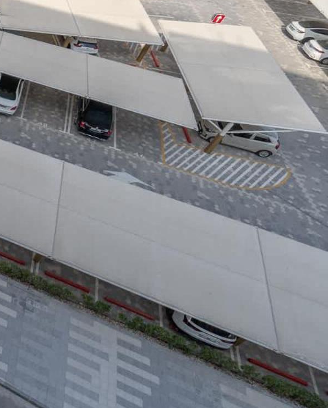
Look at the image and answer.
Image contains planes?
No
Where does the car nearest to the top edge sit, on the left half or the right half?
right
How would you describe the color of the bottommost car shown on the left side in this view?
black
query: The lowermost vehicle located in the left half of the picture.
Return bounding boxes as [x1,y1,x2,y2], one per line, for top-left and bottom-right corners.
[76,97,119,139]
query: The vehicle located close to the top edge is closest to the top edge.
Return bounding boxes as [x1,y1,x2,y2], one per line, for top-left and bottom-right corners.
[290,16,328,41]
